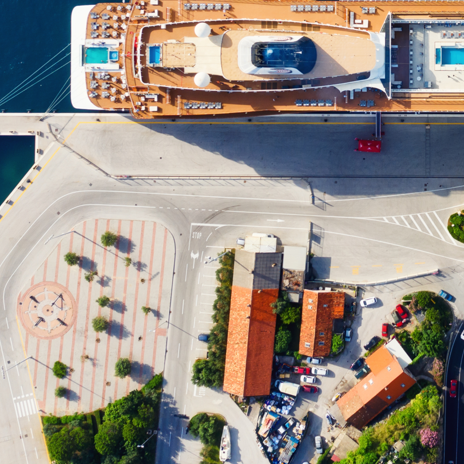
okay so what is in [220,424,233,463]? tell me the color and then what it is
white boat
